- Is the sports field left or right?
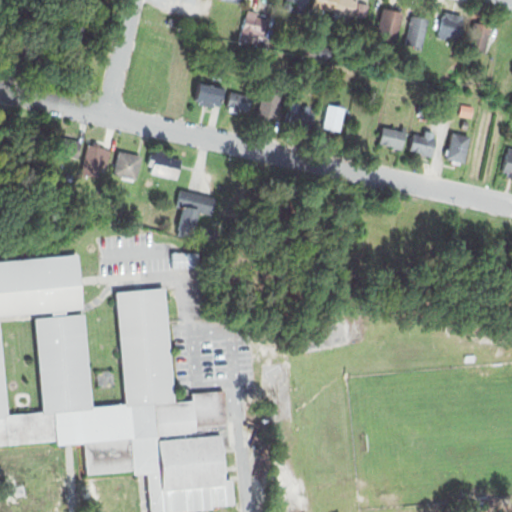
right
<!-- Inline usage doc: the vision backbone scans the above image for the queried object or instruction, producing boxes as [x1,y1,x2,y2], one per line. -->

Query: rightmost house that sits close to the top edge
[470,24,492,54]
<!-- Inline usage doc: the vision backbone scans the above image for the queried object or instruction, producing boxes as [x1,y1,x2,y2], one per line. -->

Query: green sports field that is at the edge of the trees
[349,366,512,492]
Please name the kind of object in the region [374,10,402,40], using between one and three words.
house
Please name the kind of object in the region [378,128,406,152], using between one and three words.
house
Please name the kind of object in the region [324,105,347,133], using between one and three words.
building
